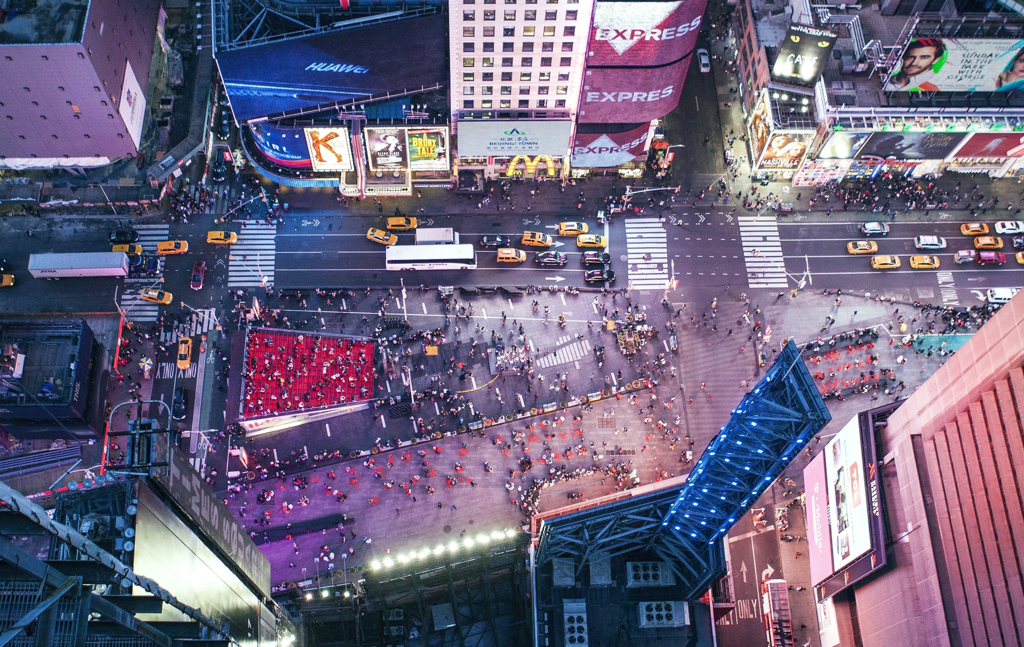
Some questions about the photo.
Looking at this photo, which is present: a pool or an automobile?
automobile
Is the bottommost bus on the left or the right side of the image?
right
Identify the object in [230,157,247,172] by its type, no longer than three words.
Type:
umbrella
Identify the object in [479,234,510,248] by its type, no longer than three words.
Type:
car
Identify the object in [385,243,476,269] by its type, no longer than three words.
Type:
bus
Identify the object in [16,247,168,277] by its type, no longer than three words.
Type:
truck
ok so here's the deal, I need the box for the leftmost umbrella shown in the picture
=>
[135,354,157,373]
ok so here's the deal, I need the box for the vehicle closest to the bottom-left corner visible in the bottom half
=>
[169,387,190,420]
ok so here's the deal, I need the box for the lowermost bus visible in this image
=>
[757,580,791,647]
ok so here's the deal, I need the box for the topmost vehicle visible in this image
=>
[697,50,711,70]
